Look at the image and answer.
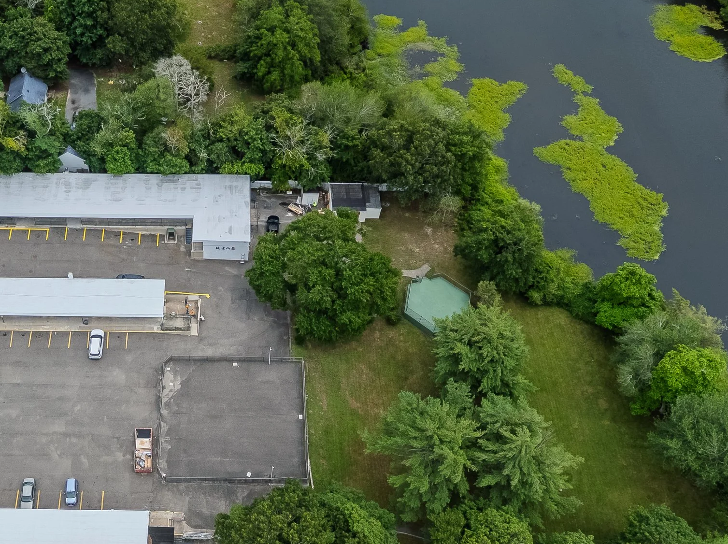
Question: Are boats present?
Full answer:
No, no boat is visible in the view.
